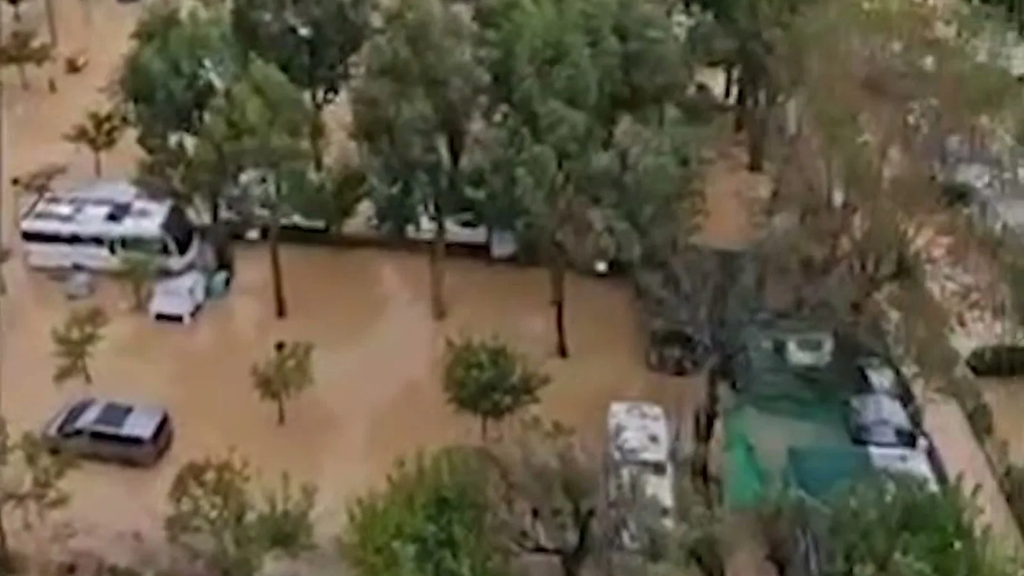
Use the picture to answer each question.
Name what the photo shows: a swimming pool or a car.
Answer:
car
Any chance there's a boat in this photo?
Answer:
No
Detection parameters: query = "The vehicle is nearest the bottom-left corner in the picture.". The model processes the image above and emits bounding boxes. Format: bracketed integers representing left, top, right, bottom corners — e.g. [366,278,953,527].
[44,395,177,460]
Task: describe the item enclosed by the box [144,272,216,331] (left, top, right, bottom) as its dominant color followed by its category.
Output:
white van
